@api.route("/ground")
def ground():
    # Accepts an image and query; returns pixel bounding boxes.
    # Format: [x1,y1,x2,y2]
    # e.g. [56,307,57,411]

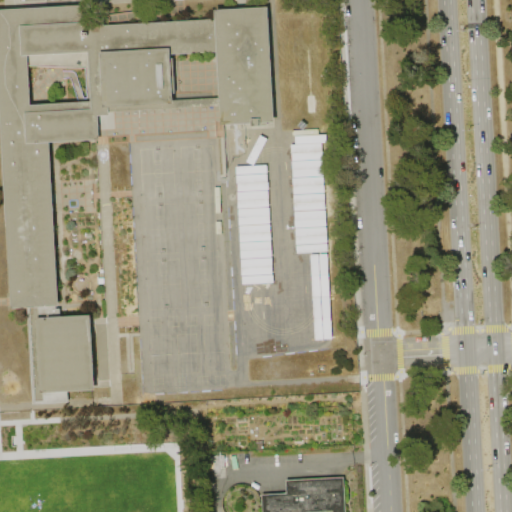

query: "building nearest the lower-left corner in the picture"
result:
[34,314,94,392]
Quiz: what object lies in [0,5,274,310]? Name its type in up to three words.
building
